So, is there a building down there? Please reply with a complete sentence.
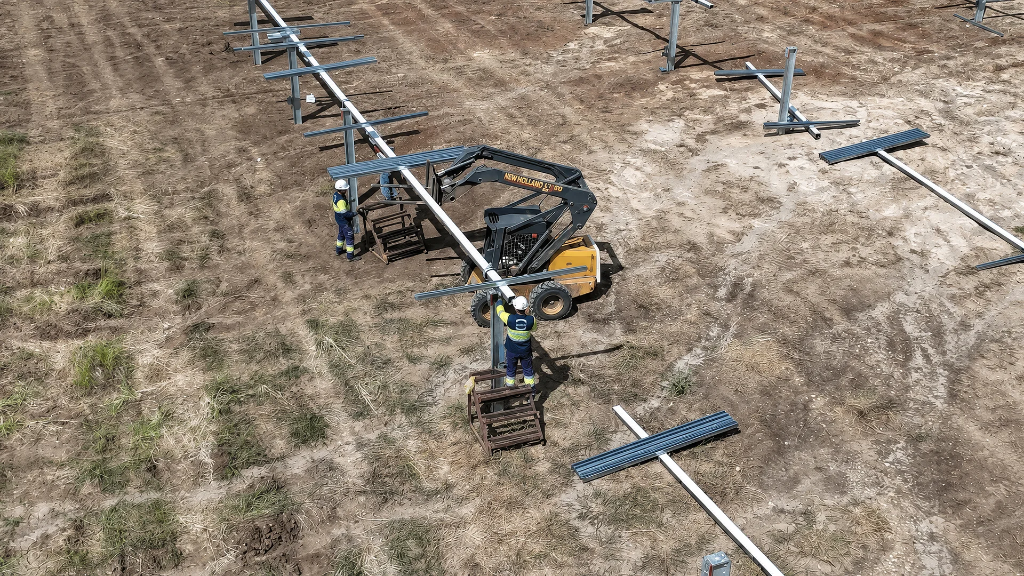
No, there isn't any building down there.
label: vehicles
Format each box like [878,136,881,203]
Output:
[372,142,601,328]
